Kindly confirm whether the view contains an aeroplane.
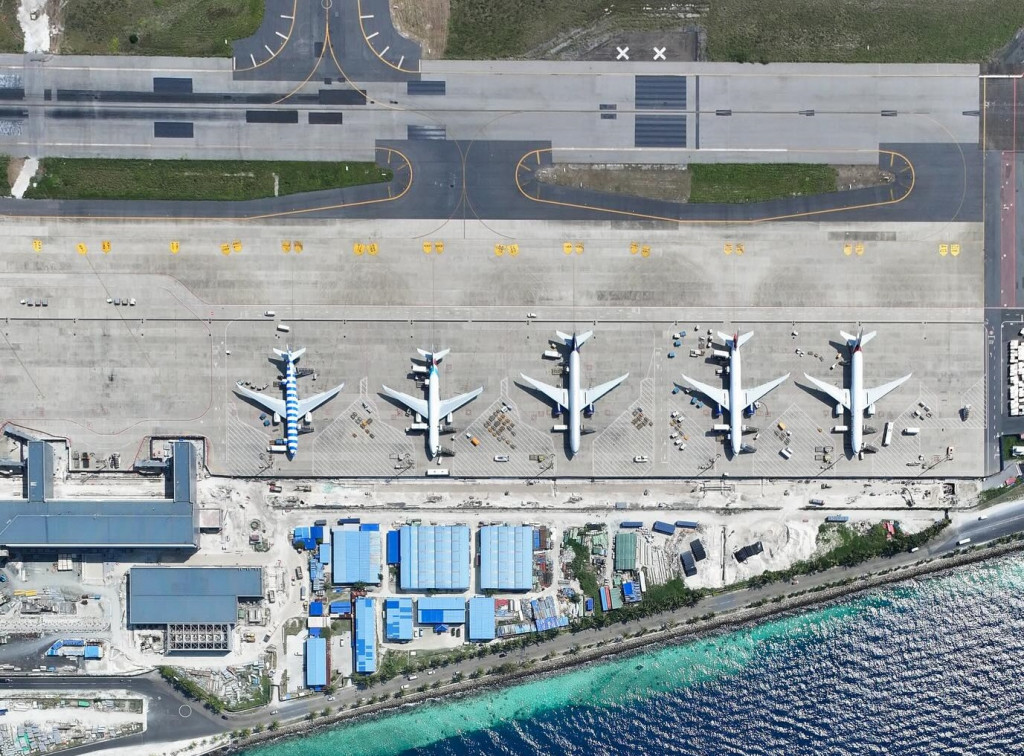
Yes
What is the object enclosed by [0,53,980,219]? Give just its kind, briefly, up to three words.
runway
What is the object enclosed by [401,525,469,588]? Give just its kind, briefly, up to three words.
building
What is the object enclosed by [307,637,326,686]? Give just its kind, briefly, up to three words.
shed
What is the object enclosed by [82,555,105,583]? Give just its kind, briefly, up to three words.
shed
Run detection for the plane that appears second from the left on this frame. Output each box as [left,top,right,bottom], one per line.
[383,347,484,458]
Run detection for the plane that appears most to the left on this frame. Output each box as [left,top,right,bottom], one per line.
[235,346,343,457]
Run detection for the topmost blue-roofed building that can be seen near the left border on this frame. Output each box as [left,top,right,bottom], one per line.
[0,424,201,545]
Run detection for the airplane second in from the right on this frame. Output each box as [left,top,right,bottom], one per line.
[681,331,791,456]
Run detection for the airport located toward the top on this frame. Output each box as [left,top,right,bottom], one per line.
[0,0,1024,477]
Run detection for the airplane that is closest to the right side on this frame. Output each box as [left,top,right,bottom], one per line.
[803,330,912,455]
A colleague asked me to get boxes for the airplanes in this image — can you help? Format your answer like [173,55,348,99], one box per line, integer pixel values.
[520,331,628,455]
[803,330,912,455]
[681,331,791,456]
[383,347,484,458]
[235,346,343,457]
